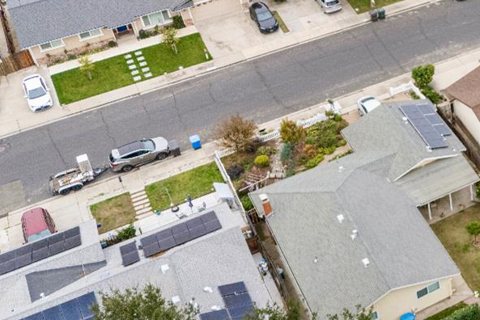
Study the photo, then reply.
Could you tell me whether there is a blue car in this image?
No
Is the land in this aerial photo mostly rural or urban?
urban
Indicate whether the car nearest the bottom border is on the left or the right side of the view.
left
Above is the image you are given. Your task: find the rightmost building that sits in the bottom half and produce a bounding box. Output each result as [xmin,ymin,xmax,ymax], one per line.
[250,98,480,320]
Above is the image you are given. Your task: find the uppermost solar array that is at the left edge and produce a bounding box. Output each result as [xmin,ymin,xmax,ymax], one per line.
[0,224,82,273]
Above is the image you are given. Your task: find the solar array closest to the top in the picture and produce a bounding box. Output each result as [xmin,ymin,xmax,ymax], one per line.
[398,102,454,148]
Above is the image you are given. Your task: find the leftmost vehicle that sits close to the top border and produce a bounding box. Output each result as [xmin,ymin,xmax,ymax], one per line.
[248,1,279,30]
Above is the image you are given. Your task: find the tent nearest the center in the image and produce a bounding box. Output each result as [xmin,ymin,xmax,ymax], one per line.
[206,174,236,201]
